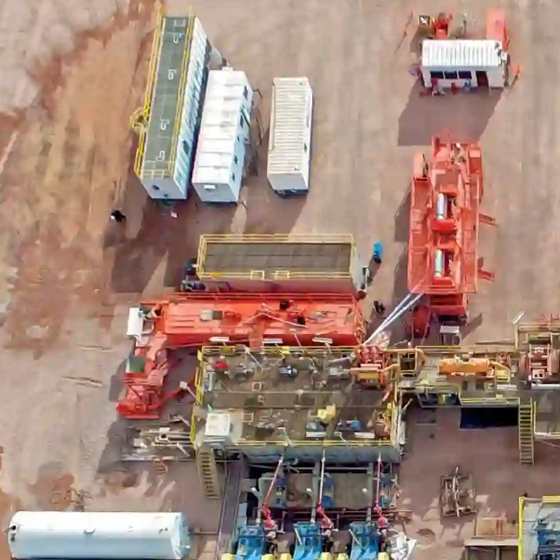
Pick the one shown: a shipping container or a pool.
shipping container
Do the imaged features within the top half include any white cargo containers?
Yes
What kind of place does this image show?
industrial area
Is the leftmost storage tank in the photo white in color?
Yes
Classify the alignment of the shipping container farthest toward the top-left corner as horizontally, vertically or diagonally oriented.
vertically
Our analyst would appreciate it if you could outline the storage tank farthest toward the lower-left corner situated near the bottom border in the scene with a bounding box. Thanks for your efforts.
[4,511,222,560]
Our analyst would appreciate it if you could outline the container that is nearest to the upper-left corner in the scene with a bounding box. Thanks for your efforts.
[117,4,199,199]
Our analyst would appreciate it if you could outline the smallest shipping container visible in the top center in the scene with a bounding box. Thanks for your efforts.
[267,77,314,196]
